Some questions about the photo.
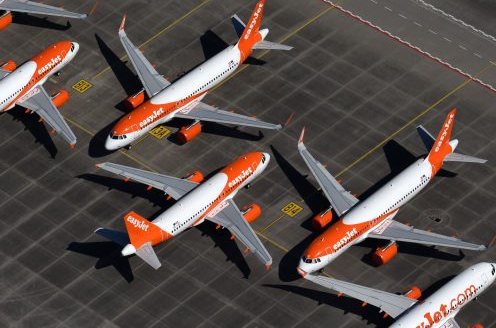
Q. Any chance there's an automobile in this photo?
No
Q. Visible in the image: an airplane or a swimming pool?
airplane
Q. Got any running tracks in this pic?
No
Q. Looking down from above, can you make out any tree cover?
No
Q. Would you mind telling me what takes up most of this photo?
paved ground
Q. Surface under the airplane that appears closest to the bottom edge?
apron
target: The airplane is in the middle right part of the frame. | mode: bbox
[298,108,496,273]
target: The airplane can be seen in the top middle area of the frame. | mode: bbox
[104,0,294,149]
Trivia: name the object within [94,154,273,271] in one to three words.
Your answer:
airplane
